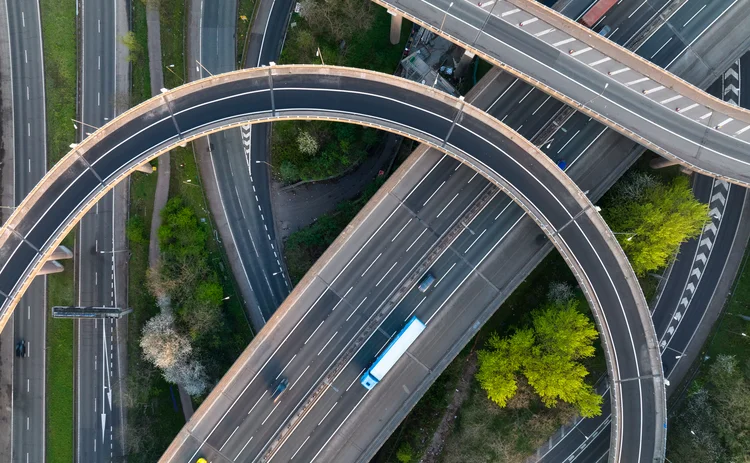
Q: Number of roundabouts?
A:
none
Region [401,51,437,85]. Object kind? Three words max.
building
